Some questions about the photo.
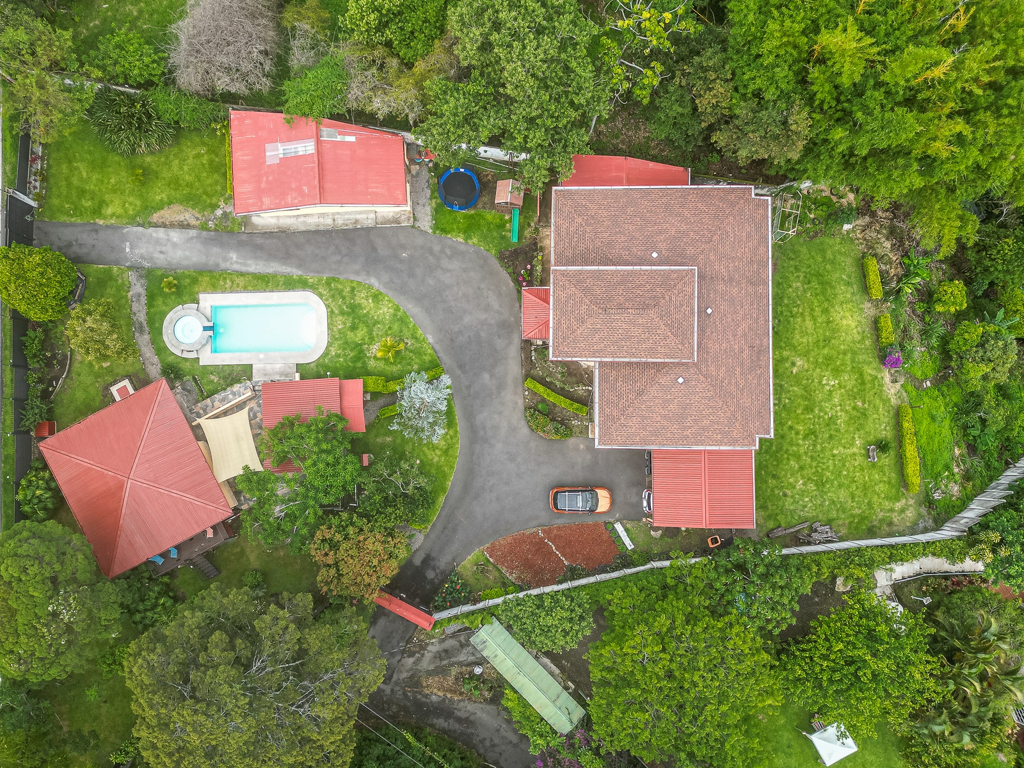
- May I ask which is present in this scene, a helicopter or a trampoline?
trampoline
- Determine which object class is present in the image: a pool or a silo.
pool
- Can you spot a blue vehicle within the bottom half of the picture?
No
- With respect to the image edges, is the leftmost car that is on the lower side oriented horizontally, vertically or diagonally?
horizontally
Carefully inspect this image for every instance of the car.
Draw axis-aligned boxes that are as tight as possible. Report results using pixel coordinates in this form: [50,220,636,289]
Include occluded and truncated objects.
[641,486,652,514]
[643,450,651,475]
[547,483,612,517]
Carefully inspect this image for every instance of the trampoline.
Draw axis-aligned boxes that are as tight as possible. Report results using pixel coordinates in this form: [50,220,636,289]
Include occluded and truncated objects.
[436,161,482,218]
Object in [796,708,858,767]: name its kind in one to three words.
tent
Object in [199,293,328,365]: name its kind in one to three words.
swimming pool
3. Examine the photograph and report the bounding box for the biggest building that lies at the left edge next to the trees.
[38,377,240,580]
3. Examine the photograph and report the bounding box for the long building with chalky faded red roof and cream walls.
[230,110,413,231]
